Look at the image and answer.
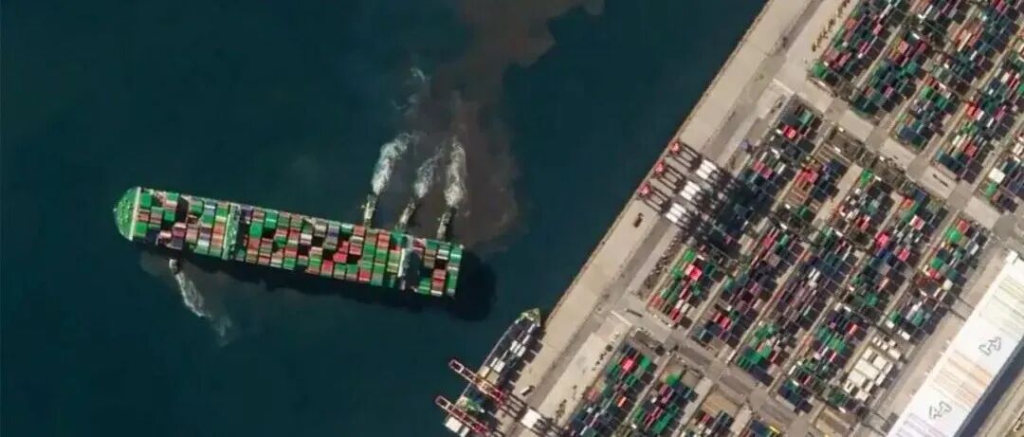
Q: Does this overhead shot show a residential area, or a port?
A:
port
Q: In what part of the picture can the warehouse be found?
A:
bottom right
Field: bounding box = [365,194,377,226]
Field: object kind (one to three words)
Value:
boat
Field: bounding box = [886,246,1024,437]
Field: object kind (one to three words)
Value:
warehouse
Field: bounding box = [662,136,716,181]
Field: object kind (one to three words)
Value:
container crane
